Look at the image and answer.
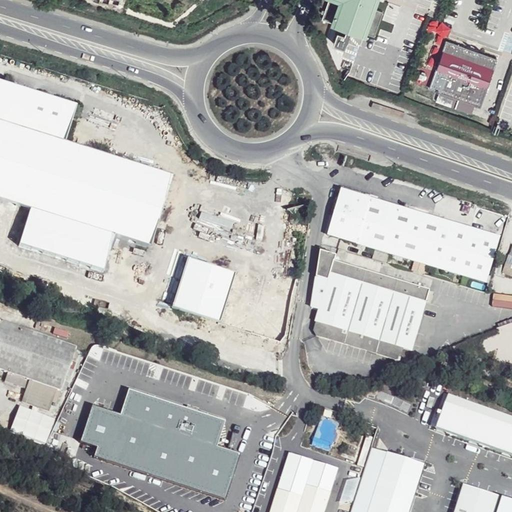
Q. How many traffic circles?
1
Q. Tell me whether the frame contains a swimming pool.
Yes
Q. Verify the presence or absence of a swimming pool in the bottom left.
No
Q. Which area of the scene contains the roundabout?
top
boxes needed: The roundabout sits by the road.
[186,26,321,160]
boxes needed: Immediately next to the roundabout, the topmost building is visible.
[324,0,378,54]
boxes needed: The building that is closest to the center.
[173,256,234,321]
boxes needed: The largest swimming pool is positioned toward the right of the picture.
[311,417,340,451]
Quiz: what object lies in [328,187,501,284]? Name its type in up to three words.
building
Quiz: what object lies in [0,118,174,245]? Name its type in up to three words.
warehouse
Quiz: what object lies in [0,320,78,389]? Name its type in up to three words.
building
